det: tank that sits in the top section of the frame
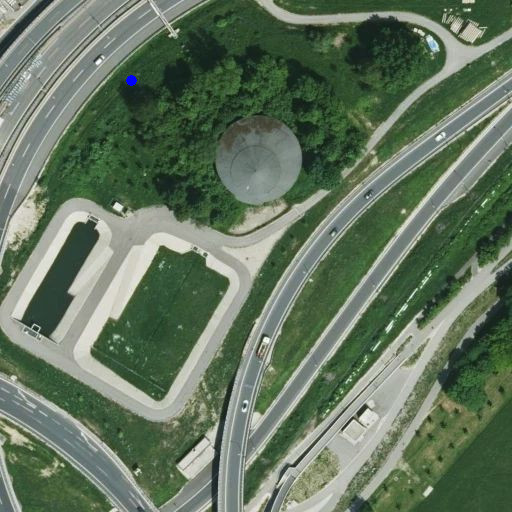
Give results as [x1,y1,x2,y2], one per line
[216,116,302,204]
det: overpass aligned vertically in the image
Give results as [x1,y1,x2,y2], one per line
[218,382,262,512]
